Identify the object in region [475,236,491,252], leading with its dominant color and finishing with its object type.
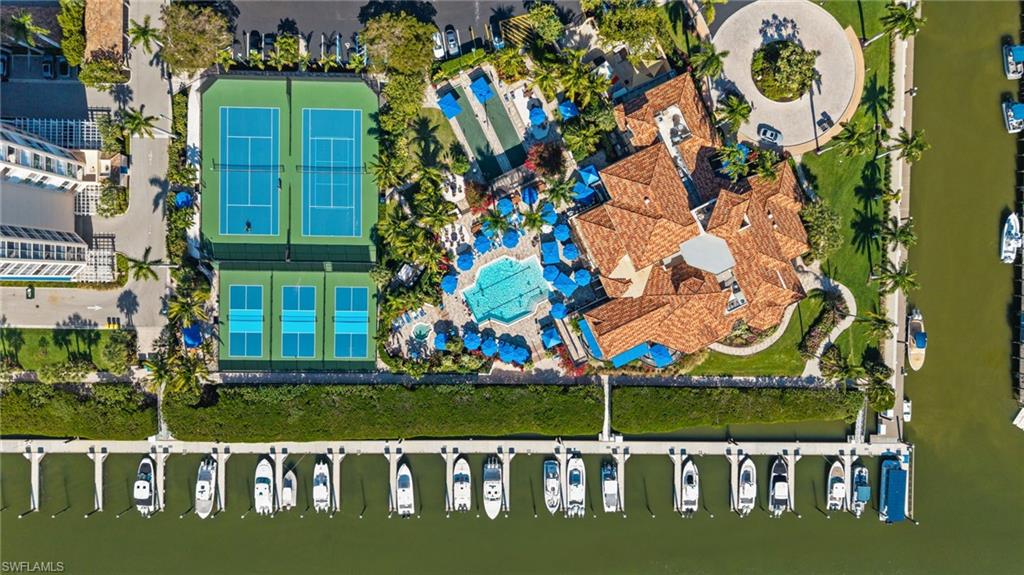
blue umbrella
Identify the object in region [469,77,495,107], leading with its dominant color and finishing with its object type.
blue tent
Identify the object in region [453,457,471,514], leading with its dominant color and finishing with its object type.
white boat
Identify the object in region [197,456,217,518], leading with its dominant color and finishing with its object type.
white boat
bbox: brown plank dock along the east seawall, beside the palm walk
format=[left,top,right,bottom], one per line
[870,0,920,441]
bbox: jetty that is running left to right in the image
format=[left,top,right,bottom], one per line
[0,440,916,520]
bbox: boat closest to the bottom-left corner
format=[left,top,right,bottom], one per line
[131,455,156,513]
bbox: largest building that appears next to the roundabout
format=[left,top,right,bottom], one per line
[576,72,810,368]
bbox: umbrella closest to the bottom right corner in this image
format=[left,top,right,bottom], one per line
[649,344,674,367]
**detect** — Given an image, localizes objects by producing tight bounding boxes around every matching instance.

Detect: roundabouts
[710,2,861,152]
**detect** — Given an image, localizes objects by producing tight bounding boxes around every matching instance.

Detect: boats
[738,454,756,514]
[601,463,617,512]
[999,95,1024,135]
[283,454,299,510]
[823,455,845,510]
[453,457,471,514]
[874,457,906,524]
[543,454,560,515]
[567,456,586,513]
[313,454,331,512]
[905,310,927,371]
[197,456,217,518]
[766,454,788,515]
[253,454,275,514]
[131,455,156,513]
[397,455,415,517]
[482,457,502,520]
[996,213,1020,265]
[682,455,698,515]
[852,466,870,512]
